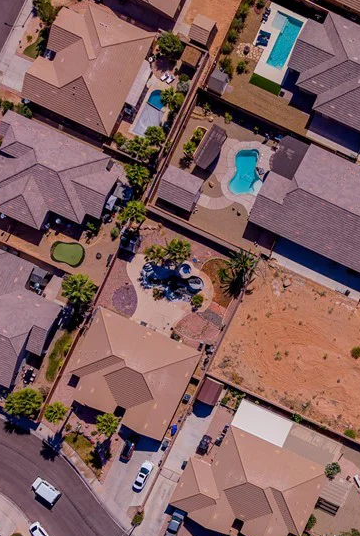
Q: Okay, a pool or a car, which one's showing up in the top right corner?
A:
pool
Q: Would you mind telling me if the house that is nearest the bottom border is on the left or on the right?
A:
right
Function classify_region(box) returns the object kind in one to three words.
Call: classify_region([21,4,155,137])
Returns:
house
